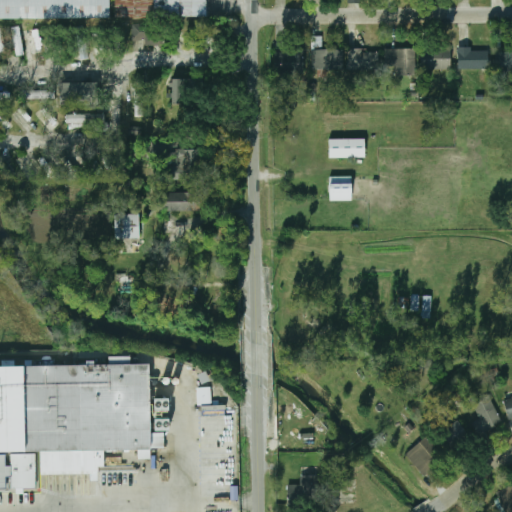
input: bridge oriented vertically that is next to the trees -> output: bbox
[241,321,274,398]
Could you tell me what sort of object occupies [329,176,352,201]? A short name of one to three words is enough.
barn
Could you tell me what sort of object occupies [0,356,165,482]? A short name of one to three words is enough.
building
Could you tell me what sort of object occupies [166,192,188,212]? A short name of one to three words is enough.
house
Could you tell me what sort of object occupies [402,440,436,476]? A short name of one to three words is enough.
house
